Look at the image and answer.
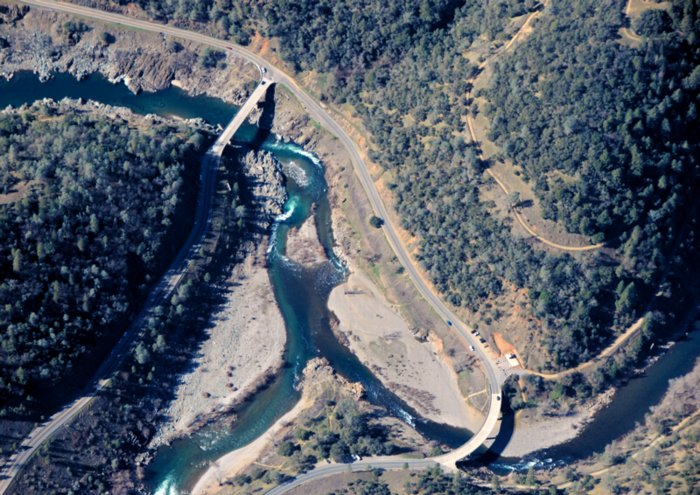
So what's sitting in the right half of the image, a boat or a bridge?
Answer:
bridge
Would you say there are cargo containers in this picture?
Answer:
No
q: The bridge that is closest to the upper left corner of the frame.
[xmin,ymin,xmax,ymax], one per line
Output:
[208,83,273,155]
